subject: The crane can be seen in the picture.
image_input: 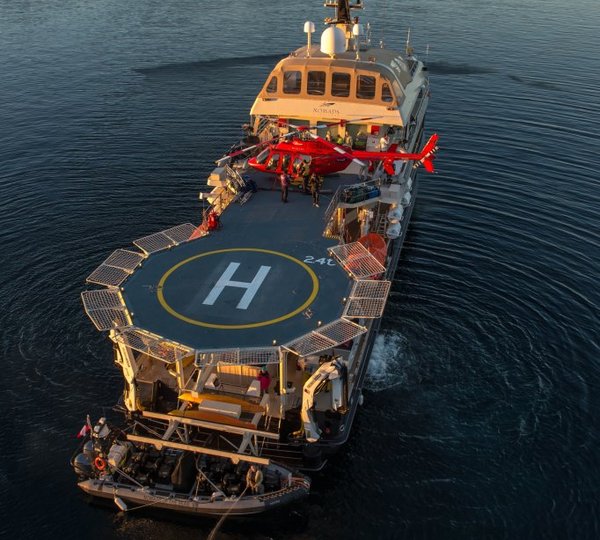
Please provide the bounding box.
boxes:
[284,347,351,436]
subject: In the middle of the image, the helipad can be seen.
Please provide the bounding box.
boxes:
[80,166,394,411]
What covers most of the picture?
water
